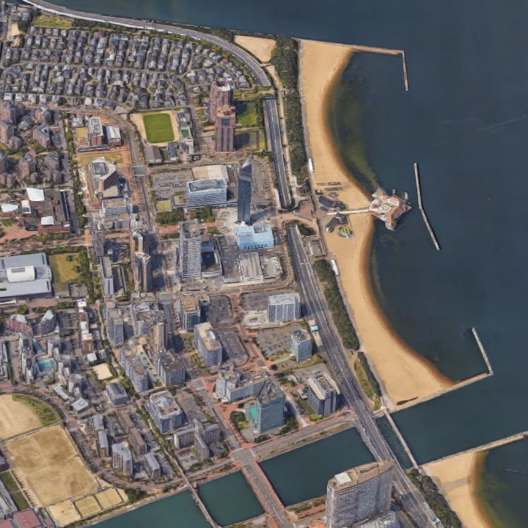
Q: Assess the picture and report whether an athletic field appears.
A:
Yes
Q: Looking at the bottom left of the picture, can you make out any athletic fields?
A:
Yes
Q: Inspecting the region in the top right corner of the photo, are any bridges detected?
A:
No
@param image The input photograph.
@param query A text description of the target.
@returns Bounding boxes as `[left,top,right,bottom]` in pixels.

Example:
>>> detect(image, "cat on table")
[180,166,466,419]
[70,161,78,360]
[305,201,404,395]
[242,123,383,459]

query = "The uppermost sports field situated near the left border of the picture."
[0,394,61,438]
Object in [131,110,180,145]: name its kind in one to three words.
sports field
